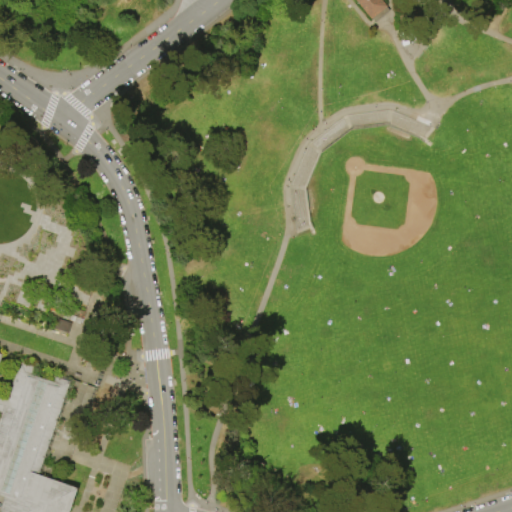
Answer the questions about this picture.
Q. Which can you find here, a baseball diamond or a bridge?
baseball diamond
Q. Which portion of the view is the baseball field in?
right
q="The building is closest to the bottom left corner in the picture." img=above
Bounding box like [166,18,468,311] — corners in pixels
[0,364,77,512]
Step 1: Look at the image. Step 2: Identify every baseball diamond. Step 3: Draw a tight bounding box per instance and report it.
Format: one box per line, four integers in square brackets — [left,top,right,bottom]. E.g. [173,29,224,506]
[342,156,438,256]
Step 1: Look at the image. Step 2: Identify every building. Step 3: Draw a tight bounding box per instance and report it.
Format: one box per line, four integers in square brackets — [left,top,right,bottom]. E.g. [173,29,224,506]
[0,364,77,512]
[54,318,73,334]
[357,0,390,21]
